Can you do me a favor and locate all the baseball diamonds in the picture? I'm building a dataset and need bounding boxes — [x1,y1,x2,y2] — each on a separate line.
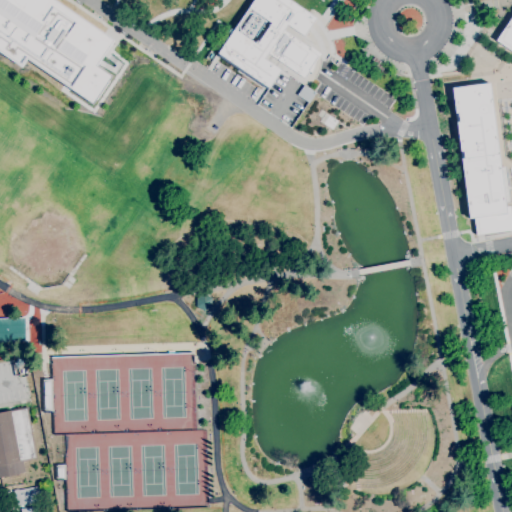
[10,215,86,294]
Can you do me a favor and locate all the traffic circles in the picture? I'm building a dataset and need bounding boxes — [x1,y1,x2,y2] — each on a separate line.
[369,0,453,60]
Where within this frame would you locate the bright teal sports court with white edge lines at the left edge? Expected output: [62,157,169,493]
[0,318,26,342]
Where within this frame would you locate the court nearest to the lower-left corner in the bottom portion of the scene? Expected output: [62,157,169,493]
[75,447,102,498]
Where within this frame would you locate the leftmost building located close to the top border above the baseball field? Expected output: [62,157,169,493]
[0,0,114,104]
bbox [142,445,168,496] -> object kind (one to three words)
tennis court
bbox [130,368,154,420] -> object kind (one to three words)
tennis court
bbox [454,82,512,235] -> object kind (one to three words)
building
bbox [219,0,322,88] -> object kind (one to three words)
building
